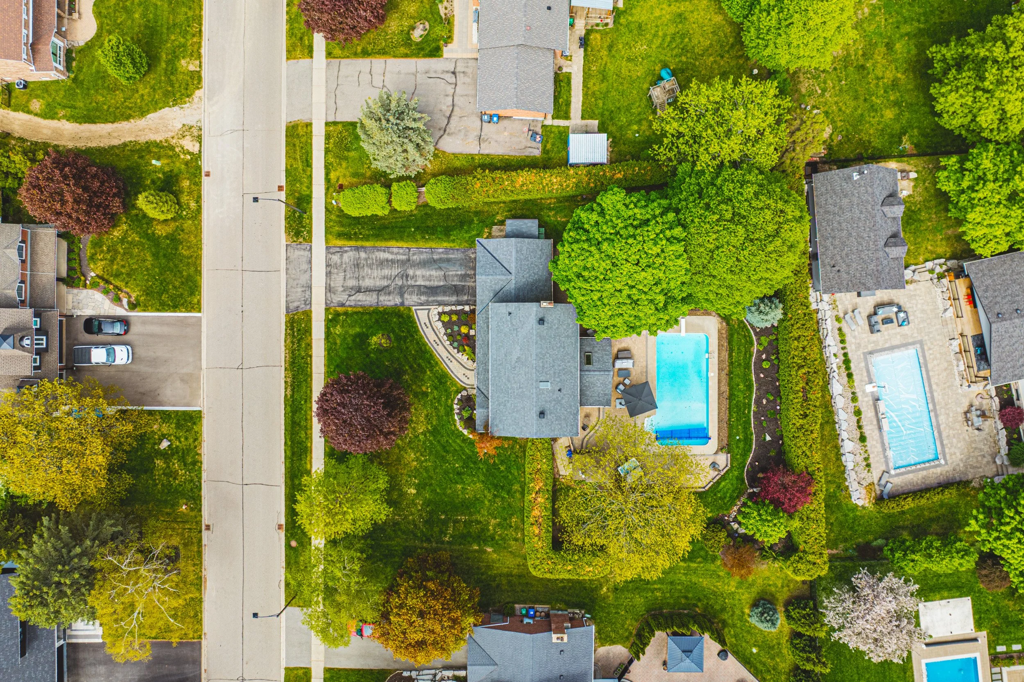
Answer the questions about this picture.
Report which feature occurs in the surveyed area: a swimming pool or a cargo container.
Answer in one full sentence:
The one in the frame is a swimming pool.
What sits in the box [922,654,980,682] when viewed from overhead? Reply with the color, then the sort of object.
blue swimming pool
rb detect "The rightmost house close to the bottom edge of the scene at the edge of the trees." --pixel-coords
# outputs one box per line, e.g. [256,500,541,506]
[467,609,595,682]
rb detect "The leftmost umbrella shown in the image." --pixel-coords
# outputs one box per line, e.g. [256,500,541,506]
[616,381,657,417]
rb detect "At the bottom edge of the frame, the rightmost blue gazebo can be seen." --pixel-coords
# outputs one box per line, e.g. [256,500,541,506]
[663,631,704,673]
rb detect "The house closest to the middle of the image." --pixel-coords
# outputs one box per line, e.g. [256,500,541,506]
[475,219,613,438]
